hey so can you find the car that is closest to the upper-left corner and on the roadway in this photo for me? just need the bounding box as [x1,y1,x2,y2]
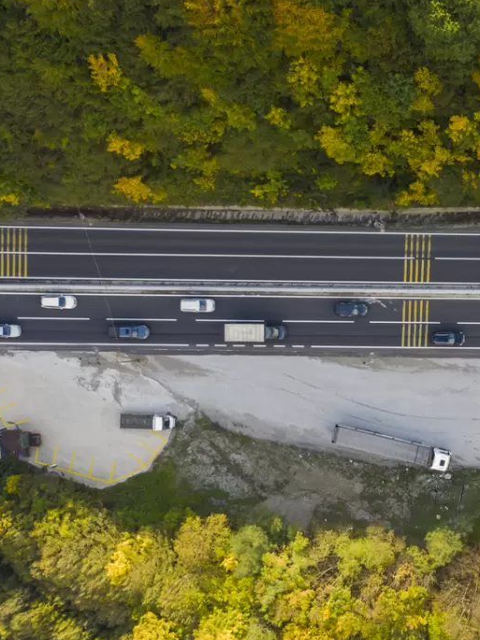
[40,295,76,310]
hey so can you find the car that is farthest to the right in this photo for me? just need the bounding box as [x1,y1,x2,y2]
[432,331,465,346]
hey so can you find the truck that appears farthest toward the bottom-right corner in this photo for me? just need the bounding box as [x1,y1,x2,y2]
[329,425,453,472]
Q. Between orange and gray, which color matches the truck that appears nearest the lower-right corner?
gray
